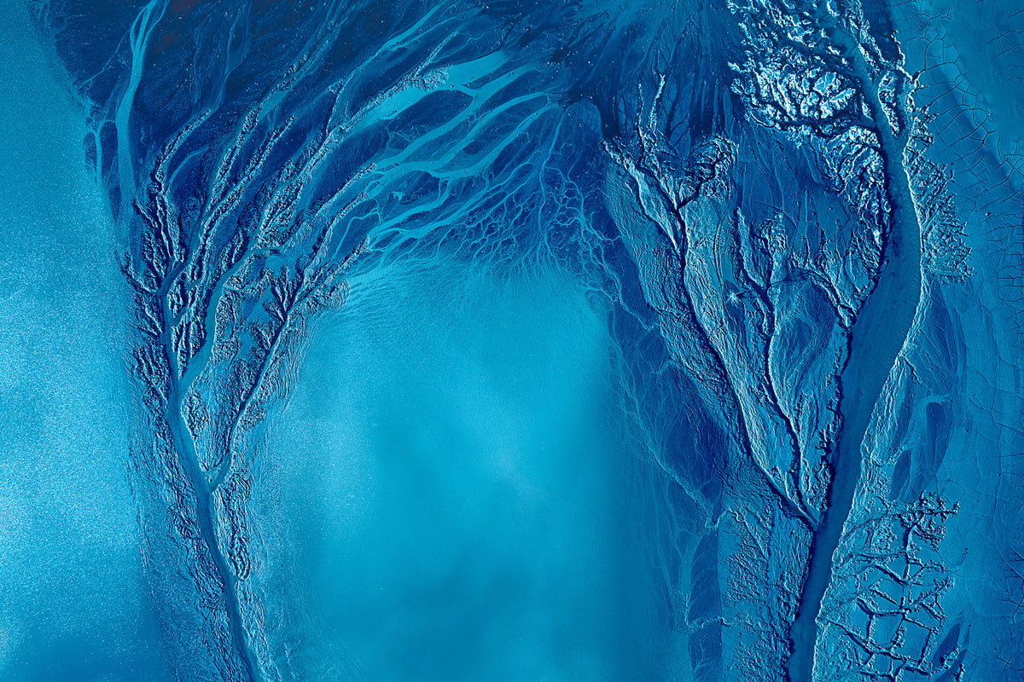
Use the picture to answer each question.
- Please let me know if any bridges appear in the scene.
No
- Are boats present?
No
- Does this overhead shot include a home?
No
